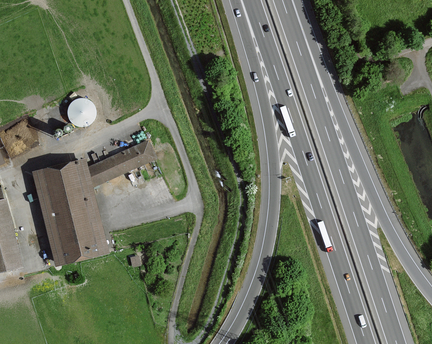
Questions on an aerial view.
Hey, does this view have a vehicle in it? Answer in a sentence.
Yes, the picture does show a vehicle.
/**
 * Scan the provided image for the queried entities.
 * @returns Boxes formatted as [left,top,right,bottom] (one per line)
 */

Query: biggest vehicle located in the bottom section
[316,220,336,252]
